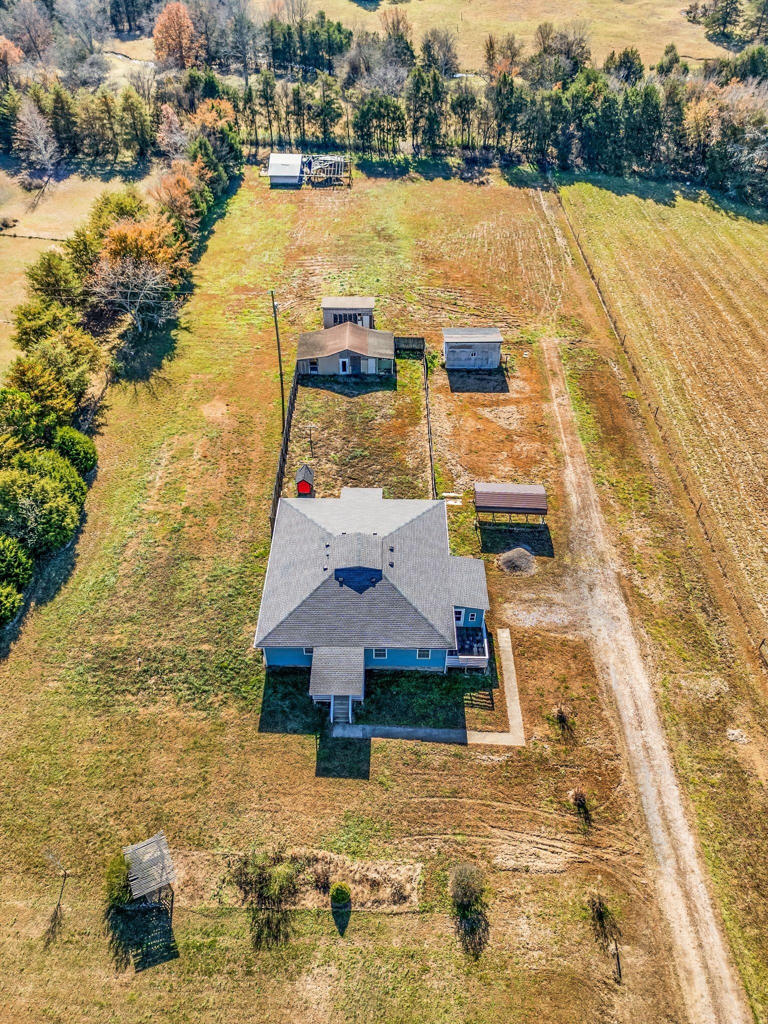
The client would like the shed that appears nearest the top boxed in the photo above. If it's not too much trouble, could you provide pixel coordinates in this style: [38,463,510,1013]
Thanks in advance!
[267,156,304,186]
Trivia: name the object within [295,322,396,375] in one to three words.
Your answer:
barn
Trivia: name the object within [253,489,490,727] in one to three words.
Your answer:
house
